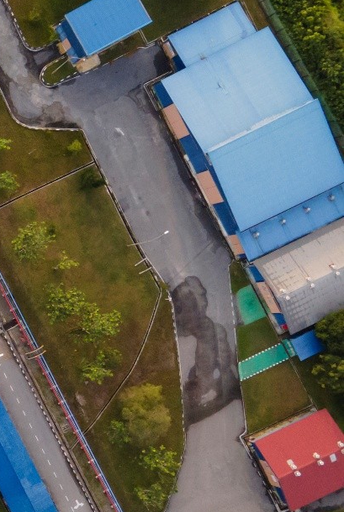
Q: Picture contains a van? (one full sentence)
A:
No, there's no van here.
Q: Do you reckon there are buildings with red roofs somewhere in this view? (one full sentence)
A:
Yes, the frame does contain a building with a red roof.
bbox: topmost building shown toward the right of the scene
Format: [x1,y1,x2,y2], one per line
[144,0,344,265]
